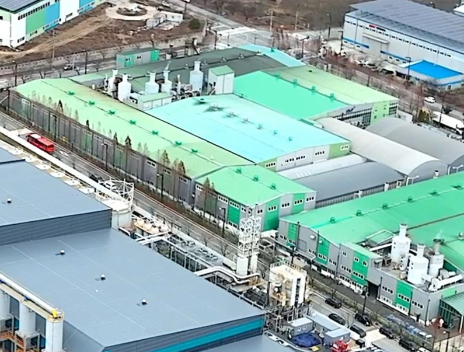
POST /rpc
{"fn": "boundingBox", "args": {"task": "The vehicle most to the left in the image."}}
[29,133,51,149]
